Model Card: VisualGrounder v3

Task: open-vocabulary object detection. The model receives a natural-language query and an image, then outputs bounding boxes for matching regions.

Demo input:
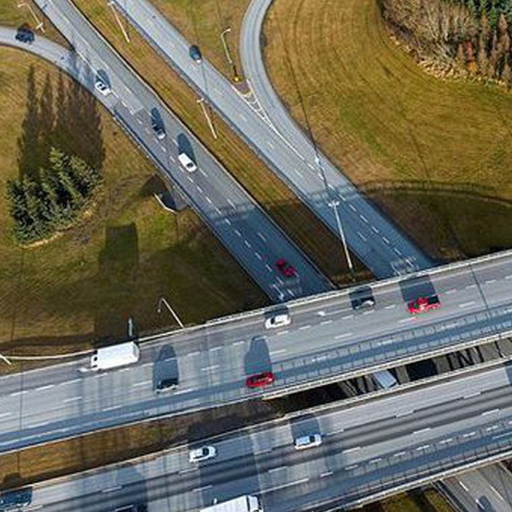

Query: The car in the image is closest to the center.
[276,259,296,278]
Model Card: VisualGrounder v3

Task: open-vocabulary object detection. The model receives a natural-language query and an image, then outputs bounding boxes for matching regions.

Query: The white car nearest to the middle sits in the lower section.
[264,312,292,328]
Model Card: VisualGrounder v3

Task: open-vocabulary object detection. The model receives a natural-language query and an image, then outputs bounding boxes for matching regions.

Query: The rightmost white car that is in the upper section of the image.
[177,152,195,169]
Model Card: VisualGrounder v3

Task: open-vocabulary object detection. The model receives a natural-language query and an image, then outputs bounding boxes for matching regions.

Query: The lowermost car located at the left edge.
[0,489,33,510]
